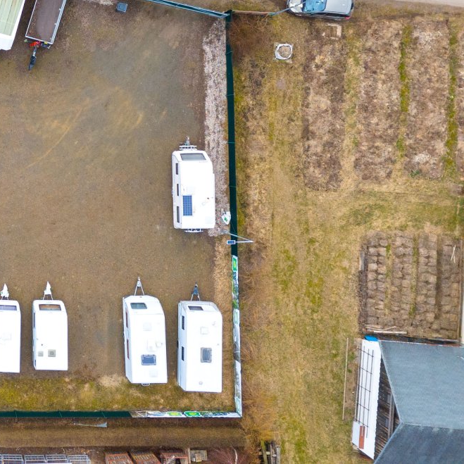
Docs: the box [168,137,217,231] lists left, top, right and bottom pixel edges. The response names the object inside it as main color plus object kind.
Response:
white camper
